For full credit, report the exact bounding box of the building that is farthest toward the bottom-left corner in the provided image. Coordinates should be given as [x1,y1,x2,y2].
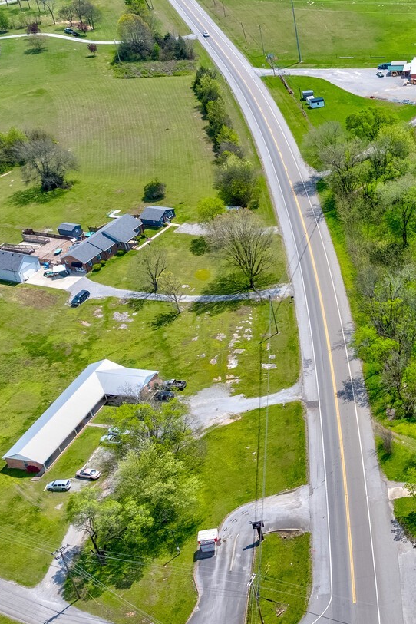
[2,359,159,473]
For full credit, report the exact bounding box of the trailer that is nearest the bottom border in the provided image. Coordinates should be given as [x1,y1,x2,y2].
[189,523,219,552]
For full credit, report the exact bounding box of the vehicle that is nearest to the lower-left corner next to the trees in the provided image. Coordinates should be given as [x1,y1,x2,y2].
[42,478,72,491]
